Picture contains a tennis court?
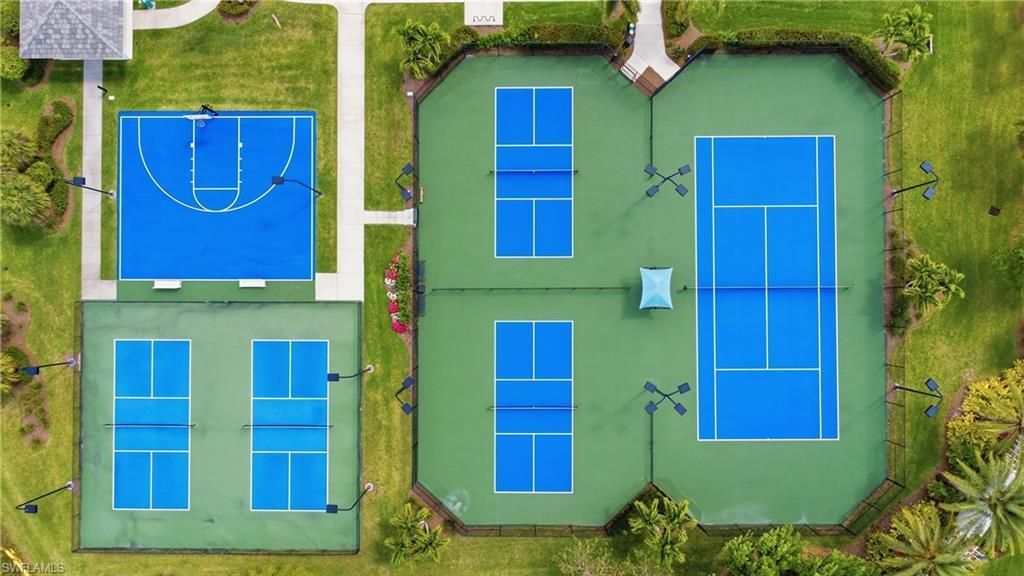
Yes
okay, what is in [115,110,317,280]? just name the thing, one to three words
basketball court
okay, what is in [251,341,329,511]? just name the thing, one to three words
sports court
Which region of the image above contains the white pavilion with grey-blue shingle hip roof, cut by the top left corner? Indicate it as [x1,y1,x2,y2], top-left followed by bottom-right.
[19,0,133,61]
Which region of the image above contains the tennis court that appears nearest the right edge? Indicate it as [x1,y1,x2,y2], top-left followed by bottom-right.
[696,137,839,440]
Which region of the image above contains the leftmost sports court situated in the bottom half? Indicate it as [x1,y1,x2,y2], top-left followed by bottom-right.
[112,340,191,510]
